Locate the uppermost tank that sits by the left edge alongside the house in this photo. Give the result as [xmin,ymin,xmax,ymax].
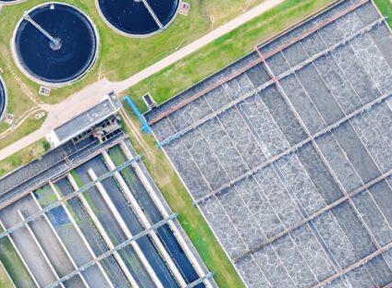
[12,1,99,87]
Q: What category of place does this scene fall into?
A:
industrial area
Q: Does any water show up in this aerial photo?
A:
Yes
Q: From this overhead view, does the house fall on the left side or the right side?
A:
left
